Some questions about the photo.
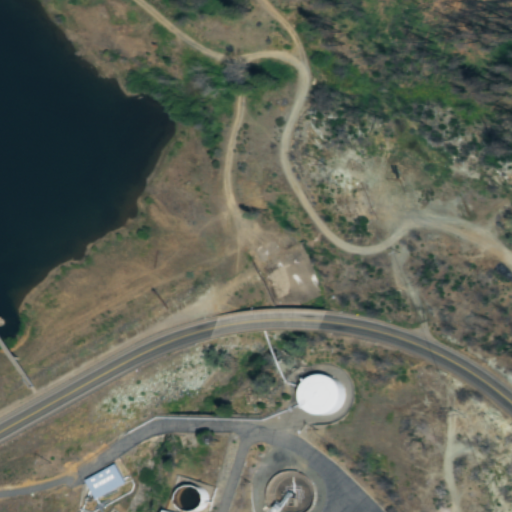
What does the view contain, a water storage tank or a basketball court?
water storage tank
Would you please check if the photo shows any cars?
No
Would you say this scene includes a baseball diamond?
No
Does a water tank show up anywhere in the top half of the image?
No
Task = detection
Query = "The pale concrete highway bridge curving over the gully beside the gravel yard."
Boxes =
[212,309,326,338]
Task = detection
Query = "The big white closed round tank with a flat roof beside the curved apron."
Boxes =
[297,372,346,418]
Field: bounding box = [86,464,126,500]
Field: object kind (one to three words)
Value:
building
